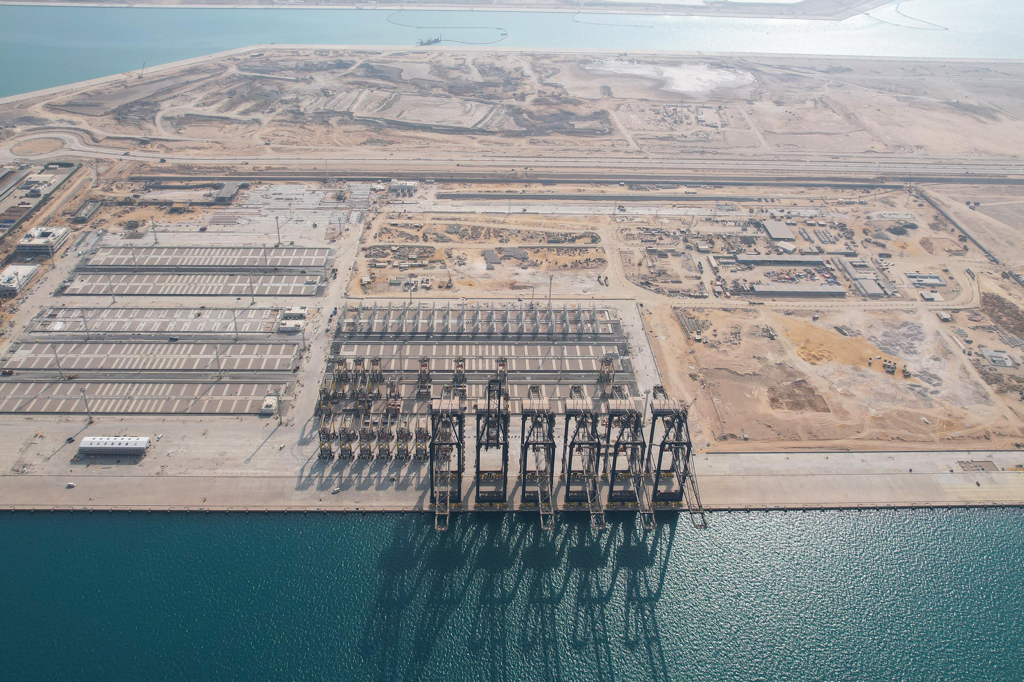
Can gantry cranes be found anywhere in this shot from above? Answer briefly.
Yes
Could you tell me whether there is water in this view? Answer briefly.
Yes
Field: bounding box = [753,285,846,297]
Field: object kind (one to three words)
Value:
shed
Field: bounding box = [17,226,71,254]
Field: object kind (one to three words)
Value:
building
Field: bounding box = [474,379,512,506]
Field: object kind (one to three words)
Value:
container crane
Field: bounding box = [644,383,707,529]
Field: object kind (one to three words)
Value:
container crane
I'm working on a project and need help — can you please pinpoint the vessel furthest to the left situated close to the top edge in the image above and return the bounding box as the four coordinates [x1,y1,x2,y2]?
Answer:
[415,23,444,46]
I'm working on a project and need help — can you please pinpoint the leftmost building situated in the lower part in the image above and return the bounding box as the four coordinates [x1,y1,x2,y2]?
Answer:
[80,438,152,456]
